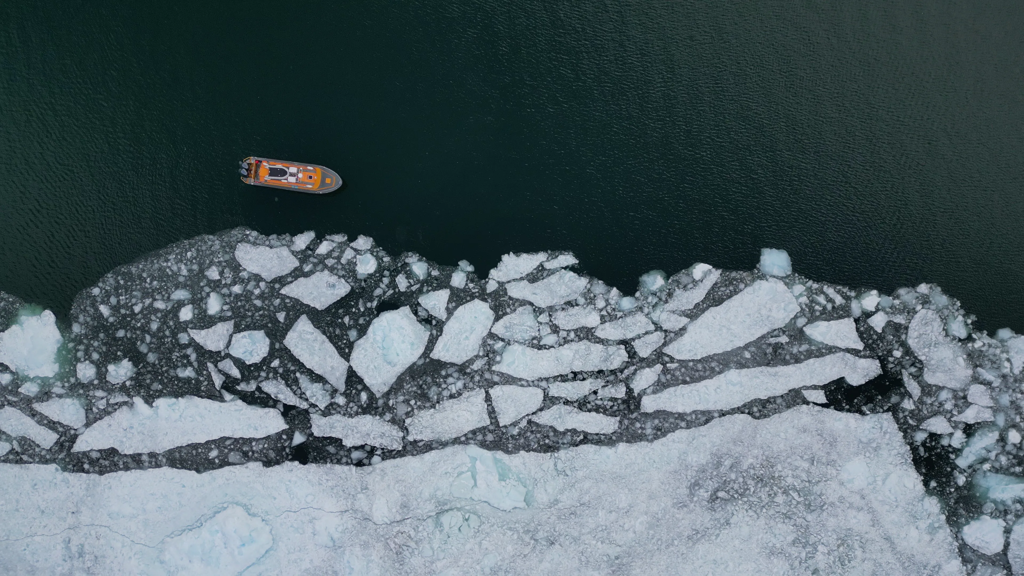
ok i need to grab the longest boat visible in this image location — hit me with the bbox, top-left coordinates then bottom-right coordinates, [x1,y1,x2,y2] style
[240,156,343,194]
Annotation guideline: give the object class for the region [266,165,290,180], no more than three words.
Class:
boat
